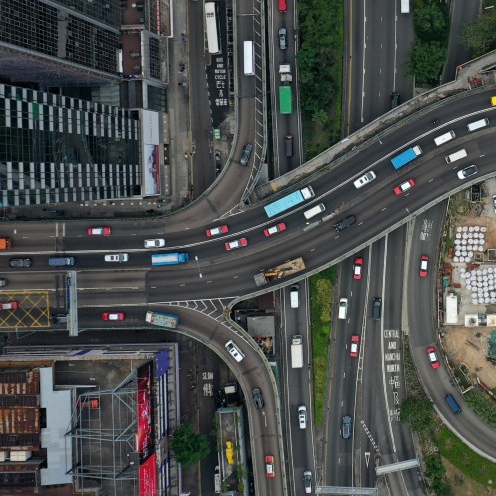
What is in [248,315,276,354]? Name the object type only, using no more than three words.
shed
